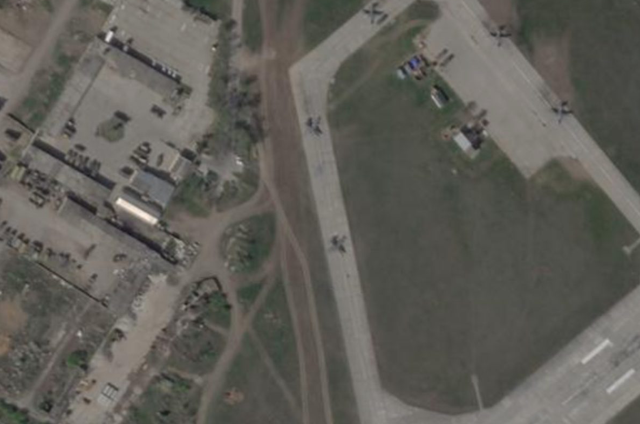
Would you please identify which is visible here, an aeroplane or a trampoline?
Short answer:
aeroplane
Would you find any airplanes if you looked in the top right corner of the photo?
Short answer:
Yes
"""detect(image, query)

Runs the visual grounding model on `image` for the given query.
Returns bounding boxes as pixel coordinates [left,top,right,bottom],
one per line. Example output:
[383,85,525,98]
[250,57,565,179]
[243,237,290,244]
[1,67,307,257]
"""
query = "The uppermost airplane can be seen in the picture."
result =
[362,1,384,24]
